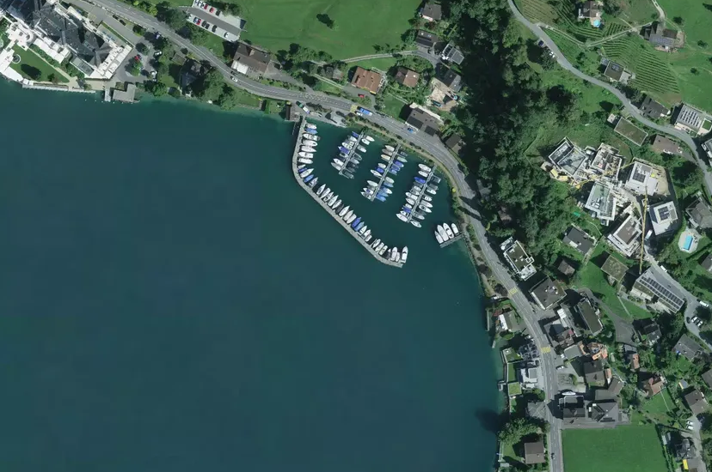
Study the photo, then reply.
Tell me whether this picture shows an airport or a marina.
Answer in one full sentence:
This image shows a marina.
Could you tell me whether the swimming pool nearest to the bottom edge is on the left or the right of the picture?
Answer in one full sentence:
You can find the swimming pool nearest to the bottom edge on the right side of the picture.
